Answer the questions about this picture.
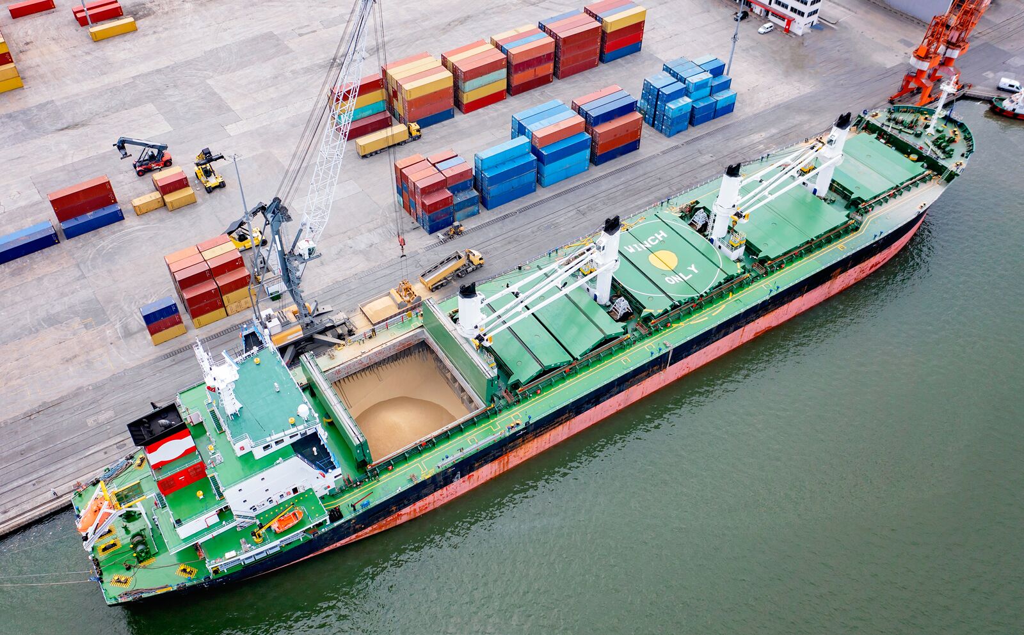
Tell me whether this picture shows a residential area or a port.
port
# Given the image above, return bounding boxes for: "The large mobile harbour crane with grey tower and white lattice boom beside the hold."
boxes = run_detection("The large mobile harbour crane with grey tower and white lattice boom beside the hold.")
[235,0,398,370]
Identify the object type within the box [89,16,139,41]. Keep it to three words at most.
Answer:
shipping container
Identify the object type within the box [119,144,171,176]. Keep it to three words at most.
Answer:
work vehicle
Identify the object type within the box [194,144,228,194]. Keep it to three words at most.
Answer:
work vehicle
